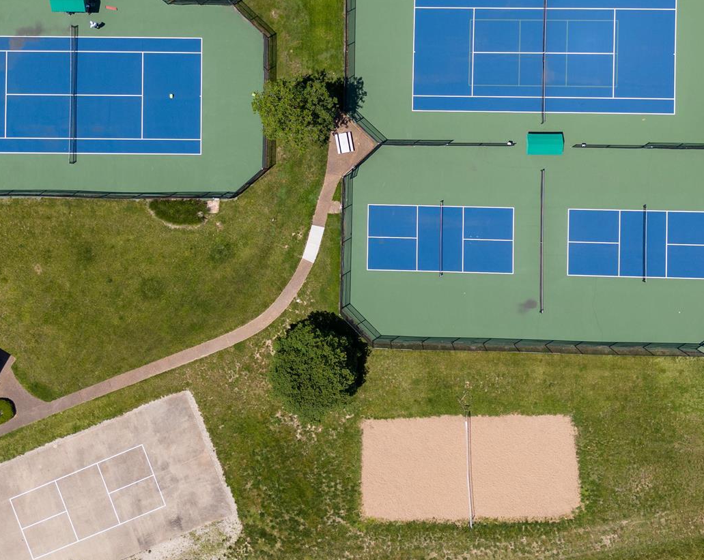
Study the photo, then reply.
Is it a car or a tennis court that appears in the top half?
tennis court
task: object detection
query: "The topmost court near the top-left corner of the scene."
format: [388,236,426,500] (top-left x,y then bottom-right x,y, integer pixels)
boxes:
[0,35,203,154]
